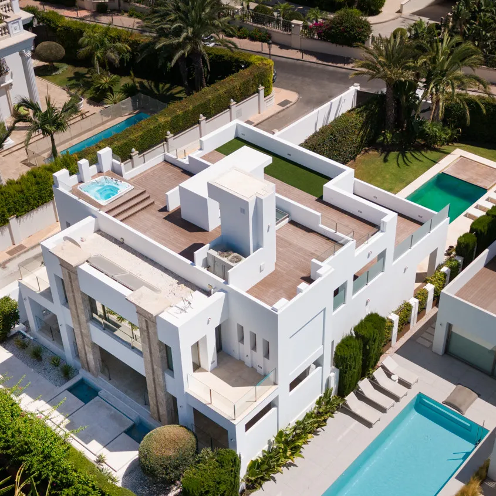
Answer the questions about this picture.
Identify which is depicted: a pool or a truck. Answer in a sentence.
Visible in the photo is a pool.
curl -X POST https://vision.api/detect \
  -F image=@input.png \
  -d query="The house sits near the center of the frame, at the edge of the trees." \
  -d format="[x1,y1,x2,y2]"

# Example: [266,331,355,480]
[12,118,450,472]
